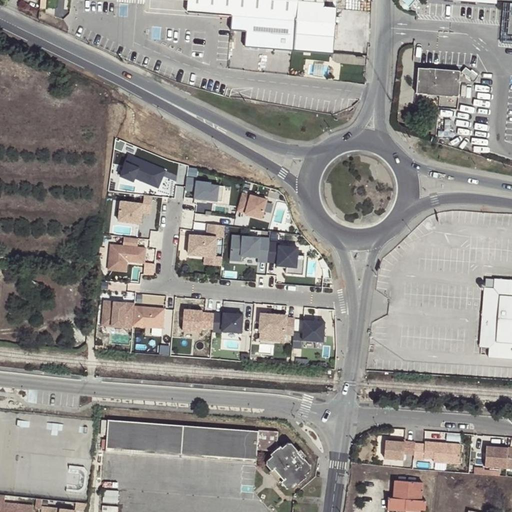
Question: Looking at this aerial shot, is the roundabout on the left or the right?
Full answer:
The roundabout appears in the right half of the scene.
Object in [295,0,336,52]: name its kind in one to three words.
building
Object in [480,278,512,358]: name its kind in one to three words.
building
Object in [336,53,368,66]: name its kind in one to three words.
shed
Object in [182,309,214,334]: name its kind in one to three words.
house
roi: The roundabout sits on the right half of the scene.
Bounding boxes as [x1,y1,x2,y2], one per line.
[296,128,420,251]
